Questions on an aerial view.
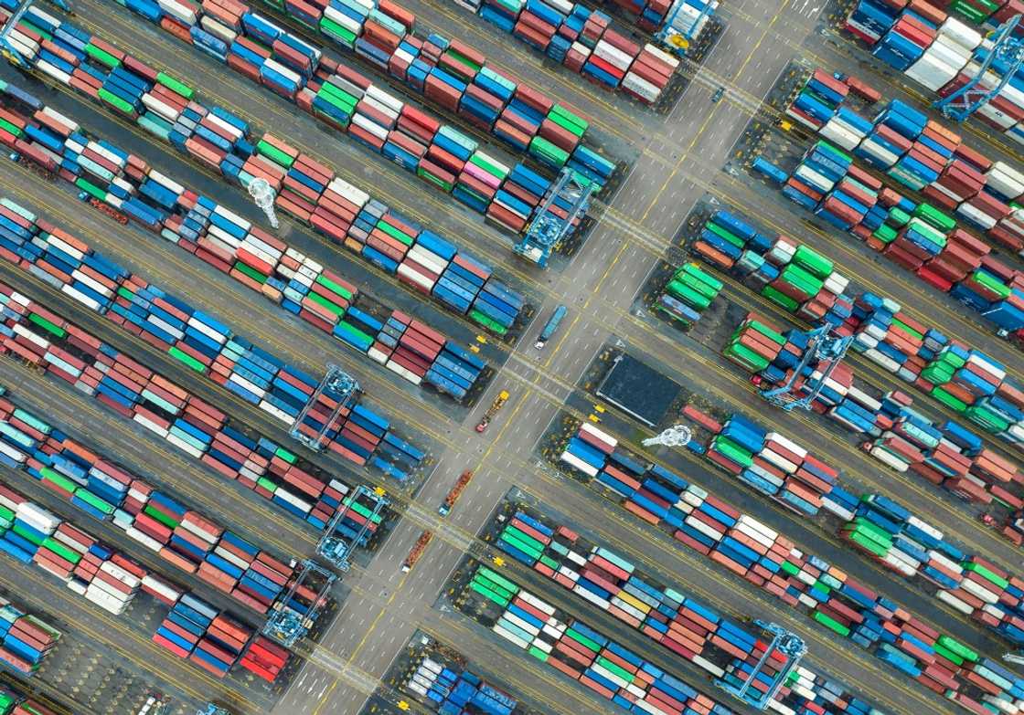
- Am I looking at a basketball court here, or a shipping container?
shipping container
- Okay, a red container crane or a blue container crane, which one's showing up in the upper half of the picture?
blue container crane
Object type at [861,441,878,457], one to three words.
vehicle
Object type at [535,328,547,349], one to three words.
vehicle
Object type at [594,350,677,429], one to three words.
shed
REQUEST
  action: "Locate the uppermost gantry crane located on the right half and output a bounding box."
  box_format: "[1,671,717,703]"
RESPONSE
[650,0,725,63]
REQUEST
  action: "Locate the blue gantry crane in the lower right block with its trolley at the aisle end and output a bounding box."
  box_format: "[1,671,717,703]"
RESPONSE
[708,615,811,715]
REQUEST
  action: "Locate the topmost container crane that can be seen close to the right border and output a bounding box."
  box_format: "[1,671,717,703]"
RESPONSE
[933,14,1024,129]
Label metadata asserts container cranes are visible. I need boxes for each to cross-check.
[286,362,369,458]
[0,0,77,75]
[650,0,725,63]
[312,481,395,574]
[510,163,596,273]
[933,14,1024,129]
[184,695,229,715]
[754,316,858,416]
[258,556,345,654]
[708,615,811,715]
